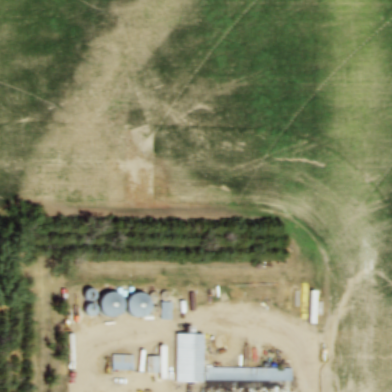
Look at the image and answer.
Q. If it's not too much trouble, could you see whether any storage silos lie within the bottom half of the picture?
Yes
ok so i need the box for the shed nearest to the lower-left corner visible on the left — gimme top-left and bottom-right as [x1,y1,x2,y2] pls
[112,354,136,370]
